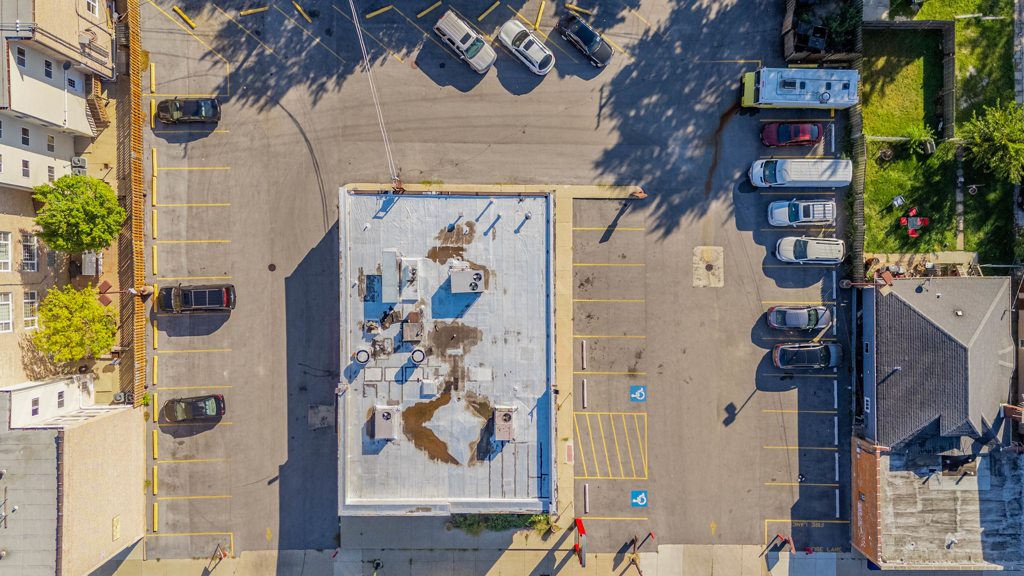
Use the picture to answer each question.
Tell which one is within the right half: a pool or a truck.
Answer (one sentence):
Visible within the right half is a truck.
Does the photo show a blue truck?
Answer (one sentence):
Yes, the frame does contain a blue truck.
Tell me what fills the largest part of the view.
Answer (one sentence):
The largest share of the image is taken up by paved ground.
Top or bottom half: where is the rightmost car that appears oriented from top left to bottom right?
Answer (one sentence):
The top half of the photo is where the rightmost car that appears oriented from top left to bottom right is.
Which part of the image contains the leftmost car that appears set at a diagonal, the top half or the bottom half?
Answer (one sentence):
The leftmost car that appears set at a diagonal is in the top half of the image.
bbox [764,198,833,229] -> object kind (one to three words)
car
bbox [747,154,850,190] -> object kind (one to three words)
van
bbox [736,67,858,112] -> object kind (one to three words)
truck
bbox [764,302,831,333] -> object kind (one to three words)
car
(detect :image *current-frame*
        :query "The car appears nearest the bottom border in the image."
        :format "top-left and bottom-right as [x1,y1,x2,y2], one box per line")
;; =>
[163,395,228,426]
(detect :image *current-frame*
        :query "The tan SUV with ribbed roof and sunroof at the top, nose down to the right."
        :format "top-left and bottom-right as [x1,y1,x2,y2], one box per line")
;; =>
[436,12,495,71]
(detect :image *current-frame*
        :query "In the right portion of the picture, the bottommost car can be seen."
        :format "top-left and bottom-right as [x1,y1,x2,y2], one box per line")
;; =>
[769,339,839,371]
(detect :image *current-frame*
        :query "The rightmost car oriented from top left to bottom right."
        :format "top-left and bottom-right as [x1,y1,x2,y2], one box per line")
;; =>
[556,14,615,68]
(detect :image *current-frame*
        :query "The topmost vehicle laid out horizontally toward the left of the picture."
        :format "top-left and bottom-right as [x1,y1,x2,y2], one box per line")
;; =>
[156,92,222,124]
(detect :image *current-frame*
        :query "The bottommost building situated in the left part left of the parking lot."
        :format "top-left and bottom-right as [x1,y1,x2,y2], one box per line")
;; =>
[0,406,145,576]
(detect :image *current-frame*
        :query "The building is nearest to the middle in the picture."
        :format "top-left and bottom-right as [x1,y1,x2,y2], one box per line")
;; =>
[337,190,558,518]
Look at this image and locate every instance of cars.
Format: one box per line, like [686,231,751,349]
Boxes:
[764,302,831,333]
[436,12,495,71]
[772,235,843,267]
[757,119,822,149]
[156,92,222,124]
[769,339,839,371]
[163,395,228,426]
[500,20,555,76]
[158,282,235,315]
[764,198,833,229]
[556,14,615,68]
